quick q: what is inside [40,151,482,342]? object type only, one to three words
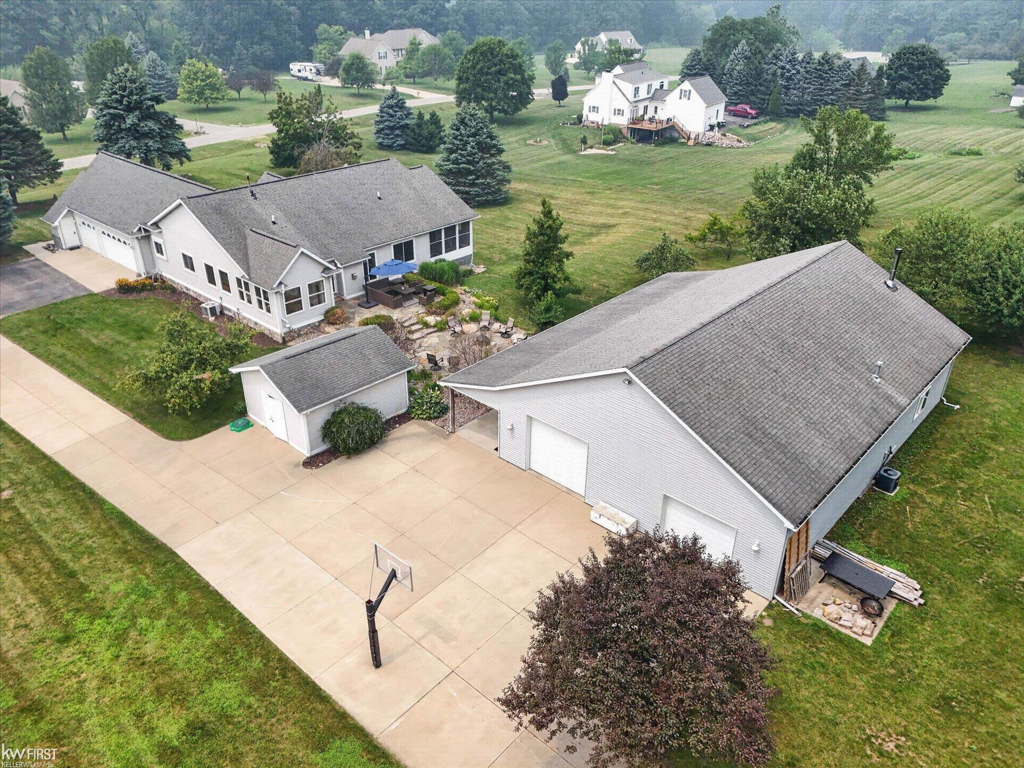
house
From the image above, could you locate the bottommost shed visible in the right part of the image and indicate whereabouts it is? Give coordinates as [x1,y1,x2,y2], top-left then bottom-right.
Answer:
[443,236,968,617]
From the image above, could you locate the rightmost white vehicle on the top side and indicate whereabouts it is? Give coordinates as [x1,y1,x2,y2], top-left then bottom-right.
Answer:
[284,60,327,82]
